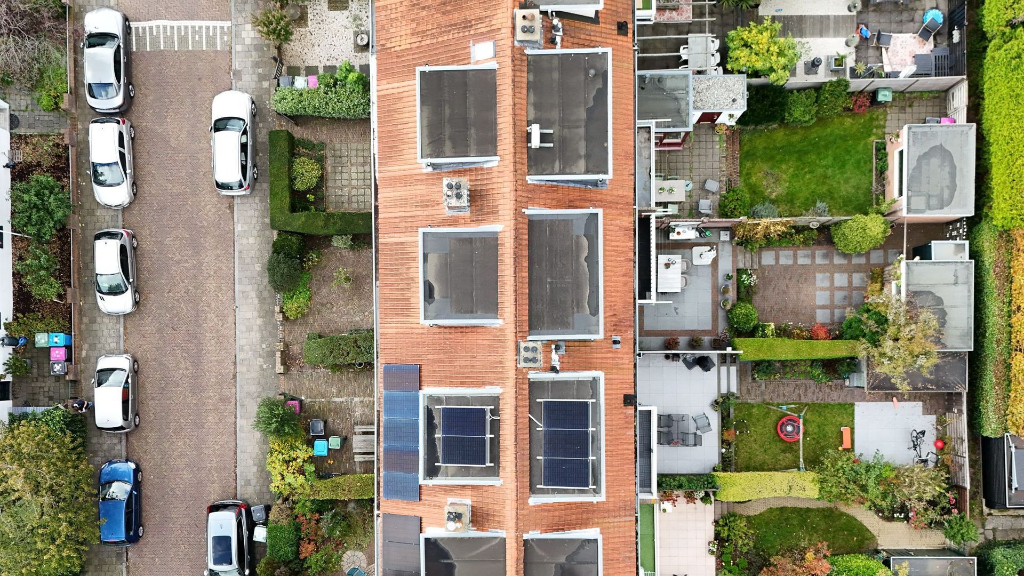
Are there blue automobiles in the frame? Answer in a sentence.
Yes, there's a blue automobile down there.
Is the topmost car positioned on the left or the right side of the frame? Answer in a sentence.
The topmost car sits on the left side.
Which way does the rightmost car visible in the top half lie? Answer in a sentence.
The rightmost car visible in the top half has been laid out from top to bottom relative to the frame.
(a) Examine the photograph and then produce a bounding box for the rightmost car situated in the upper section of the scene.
[206,87,261,195]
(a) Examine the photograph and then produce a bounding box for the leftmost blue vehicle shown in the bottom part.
[92,460,146,552]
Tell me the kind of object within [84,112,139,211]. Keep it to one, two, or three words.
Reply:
car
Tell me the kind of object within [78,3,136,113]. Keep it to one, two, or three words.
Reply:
car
